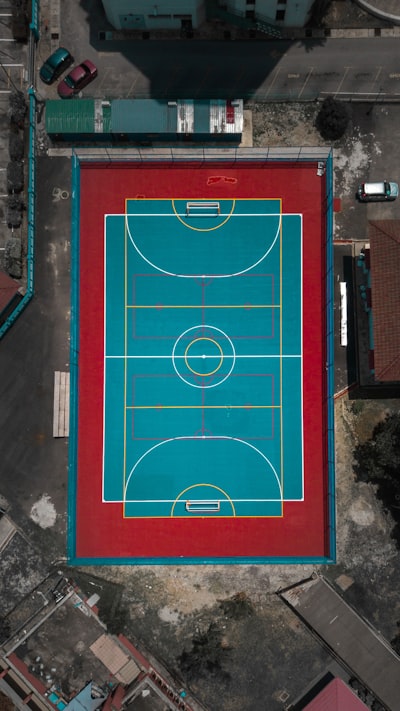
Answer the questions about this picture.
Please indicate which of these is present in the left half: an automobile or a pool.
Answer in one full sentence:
The feature located in the left half is an automobile.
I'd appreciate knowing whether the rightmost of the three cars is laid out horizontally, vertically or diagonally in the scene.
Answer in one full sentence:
In this picture, the rightmost of the three cars lies horizontally.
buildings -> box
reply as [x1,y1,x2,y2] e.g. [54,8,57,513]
[0,499,22,555]
[270,647,374,711]
[356,218,400,392]
[44,98,242,144]
[0,269,22,315]
[103,0,204,28]
[0,588,209,711]
[211,0,307,28]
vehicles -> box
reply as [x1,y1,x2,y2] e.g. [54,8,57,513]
[358,181,399,201]
[39,46,76,86]
[58,59,99,99]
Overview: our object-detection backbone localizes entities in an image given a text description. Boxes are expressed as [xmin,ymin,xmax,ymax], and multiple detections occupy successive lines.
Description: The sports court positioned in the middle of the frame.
[76,162,329,556]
